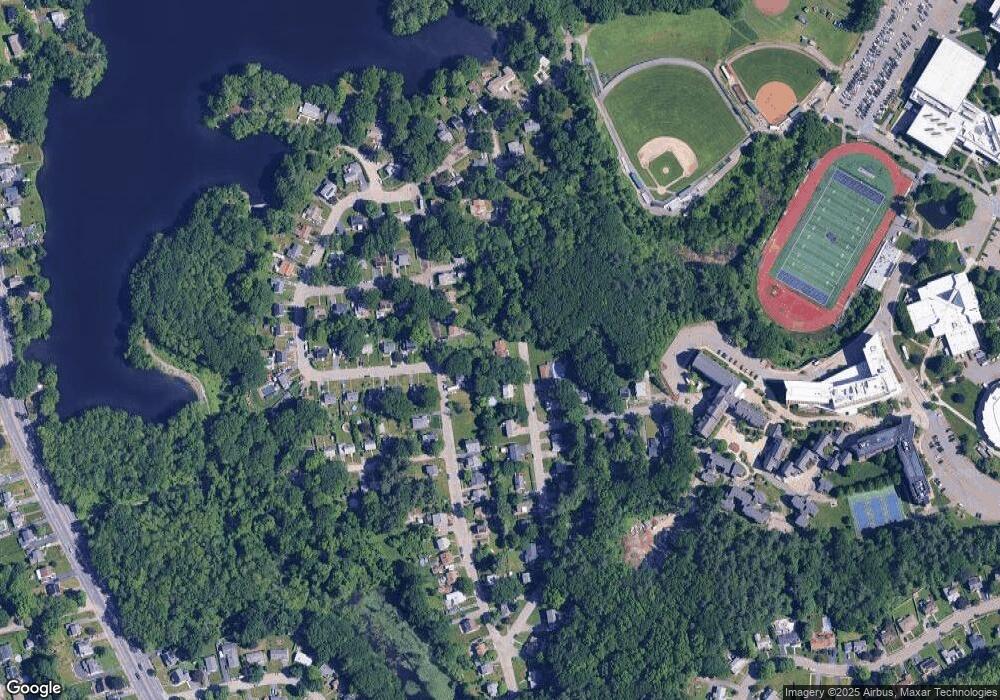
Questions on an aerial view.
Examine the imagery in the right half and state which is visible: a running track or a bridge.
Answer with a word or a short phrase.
running track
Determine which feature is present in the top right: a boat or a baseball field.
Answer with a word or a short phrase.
baseball field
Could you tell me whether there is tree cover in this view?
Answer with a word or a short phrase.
Yes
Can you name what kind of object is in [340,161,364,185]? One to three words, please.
house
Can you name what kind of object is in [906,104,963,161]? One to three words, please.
building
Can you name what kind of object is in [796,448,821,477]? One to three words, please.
building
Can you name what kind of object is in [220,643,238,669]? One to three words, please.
house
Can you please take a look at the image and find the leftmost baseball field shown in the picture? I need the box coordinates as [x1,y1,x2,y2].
[597,57,755,216]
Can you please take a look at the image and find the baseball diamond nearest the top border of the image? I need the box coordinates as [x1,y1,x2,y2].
[720,39,846,134]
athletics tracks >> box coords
[757,145,915,330]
